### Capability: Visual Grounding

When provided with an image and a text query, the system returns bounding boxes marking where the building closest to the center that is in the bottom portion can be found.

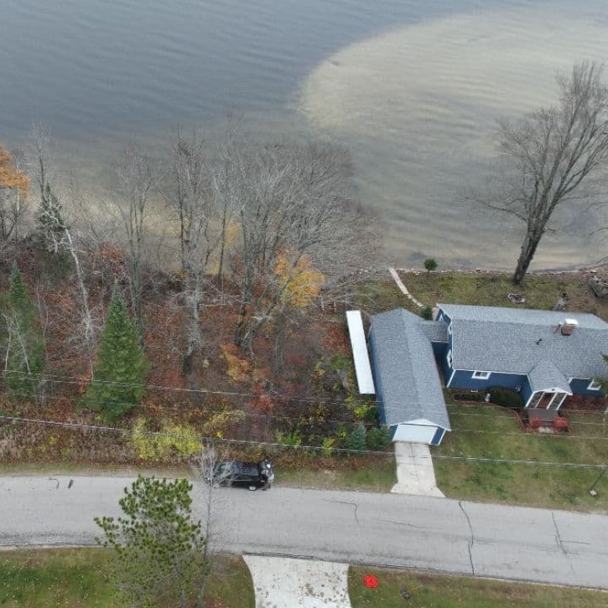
[365,308,451,448]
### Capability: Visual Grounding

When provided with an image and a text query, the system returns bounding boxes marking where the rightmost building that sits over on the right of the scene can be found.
[420,302,608,425]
